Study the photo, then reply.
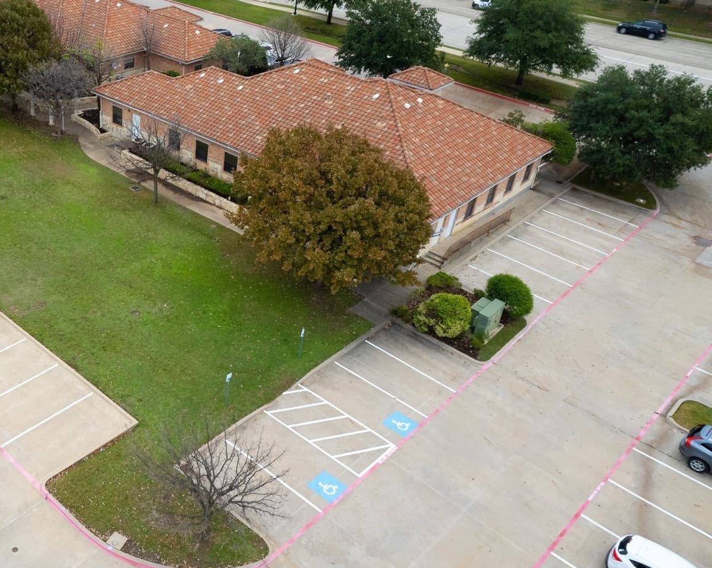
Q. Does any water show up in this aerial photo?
No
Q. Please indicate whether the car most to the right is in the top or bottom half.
bottom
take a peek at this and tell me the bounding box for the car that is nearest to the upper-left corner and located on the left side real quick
[224,23,258,42]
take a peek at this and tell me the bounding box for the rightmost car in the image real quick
[679,422,712,468]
